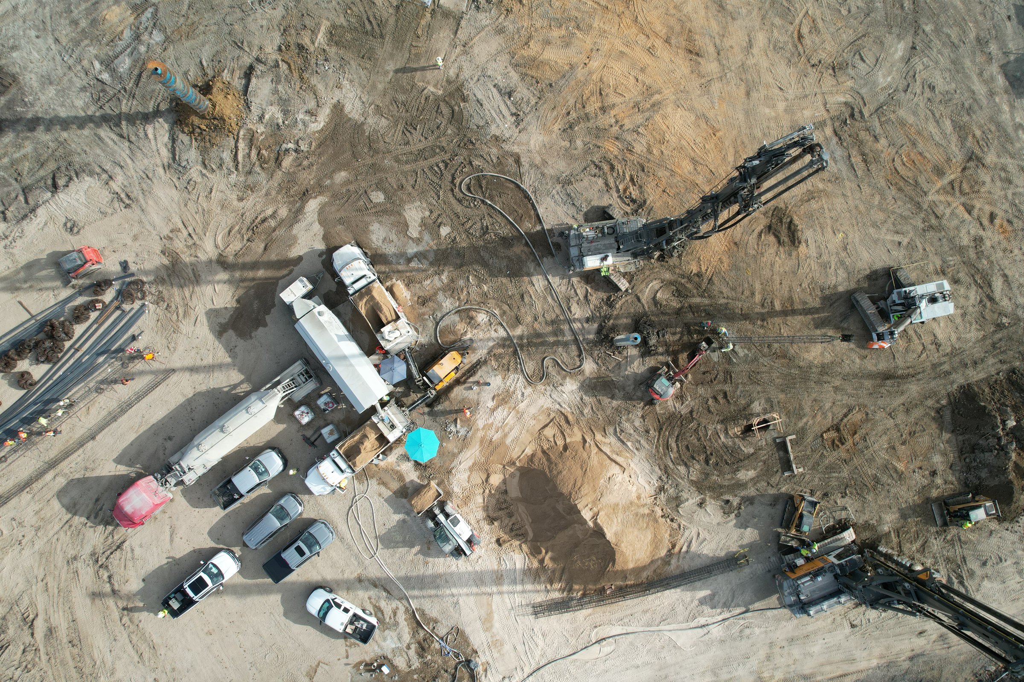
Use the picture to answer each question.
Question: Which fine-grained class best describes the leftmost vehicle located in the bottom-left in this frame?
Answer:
truck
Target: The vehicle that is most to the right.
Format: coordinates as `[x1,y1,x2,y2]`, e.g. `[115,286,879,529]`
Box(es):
[934,489,1003,526]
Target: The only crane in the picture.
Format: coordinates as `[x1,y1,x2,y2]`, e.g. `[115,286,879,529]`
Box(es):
[847,261,953,350]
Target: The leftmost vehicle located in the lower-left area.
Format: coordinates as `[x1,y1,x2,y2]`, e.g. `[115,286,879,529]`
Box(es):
[110,464,190,533]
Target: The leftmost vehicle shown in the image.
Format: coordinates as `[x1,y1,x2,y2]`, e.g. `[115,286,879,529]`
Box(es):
[56,240,111,289]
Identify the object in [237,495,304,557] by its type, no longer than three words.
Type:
car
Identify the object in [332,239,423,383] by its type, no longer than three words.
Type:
truck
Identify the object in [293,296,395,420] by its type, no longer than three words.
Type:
trailer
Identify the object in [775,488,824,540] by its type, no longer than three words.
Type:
work vehicle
